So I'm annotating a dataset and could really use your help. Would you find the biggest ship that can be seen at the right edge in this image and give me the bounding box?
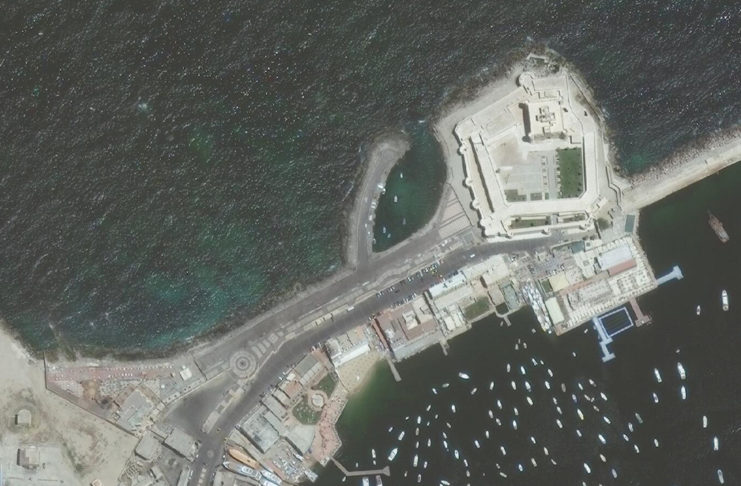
[709,209,730,242]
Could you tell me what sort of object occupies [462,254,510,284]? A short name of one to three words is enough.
building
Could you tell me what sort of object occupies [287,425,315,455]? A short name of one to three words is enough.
building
